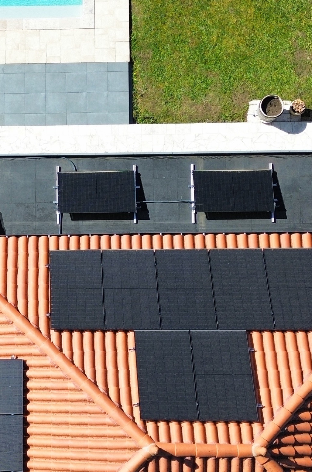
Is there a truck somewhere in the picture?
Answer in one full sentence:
No, no truck is visible in the view.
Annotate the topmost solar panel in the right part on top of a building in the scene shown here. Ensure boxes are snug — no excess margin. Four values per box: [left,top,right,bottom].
[189,164,278,223]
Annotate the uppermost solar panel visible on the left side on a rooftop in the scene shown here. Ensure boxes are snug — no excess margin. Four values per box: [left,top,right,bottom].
[55,165,140,223]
